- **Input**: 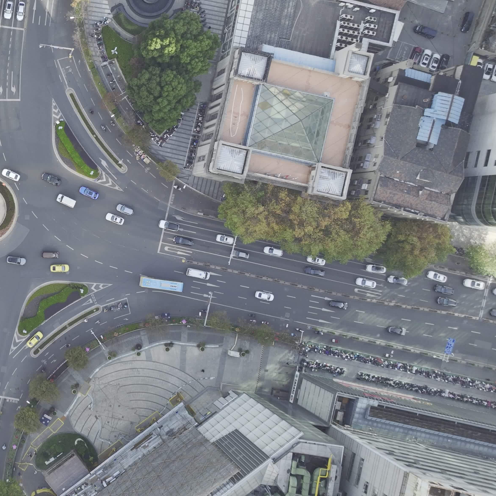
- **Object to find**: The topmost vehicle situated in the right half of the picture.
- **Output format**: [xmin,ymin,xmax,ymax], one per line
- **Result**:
[413,24,442,39]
